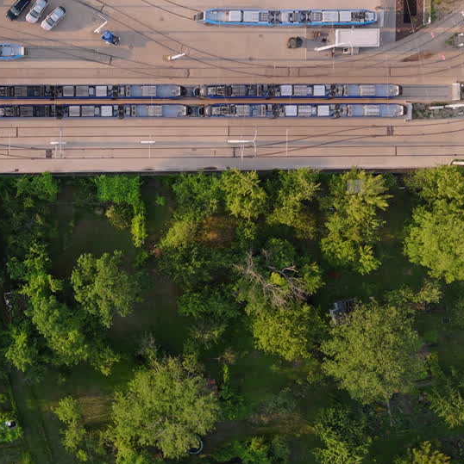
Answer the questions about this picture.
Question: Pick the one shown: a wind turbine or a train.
train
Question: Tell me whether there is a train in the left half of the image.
Yes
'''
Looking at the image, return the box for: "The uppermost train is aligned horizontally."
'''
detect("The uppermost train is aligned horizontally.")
[191,9,375,28]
